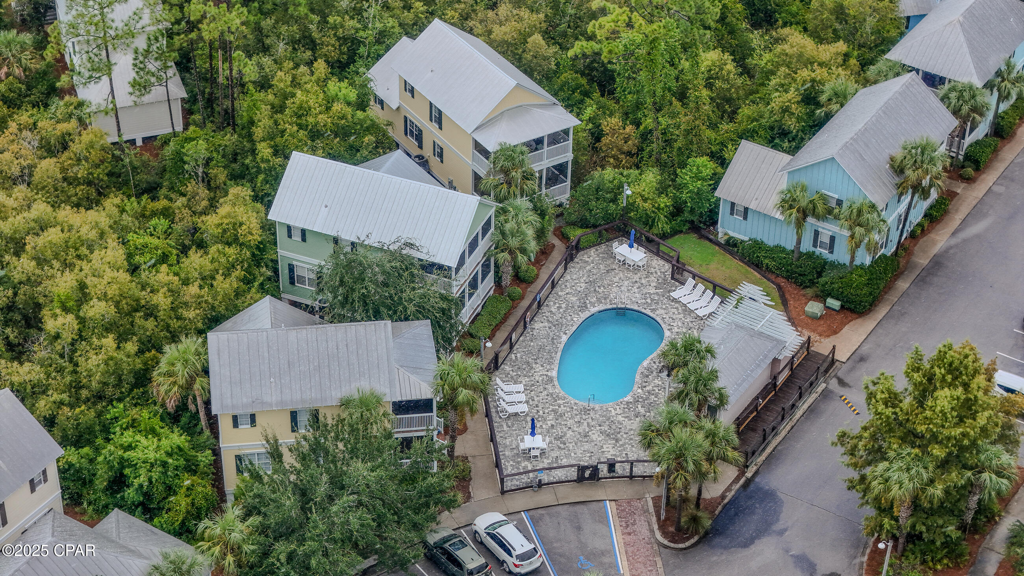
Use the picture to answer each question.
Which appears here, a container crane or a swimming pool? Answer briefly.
swimming pool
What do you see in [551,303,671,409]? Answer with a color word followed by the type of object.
blue swimming pool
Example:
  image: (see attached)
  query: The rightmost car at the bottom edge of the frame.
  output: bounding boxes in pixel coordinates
[469,510,547,576]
